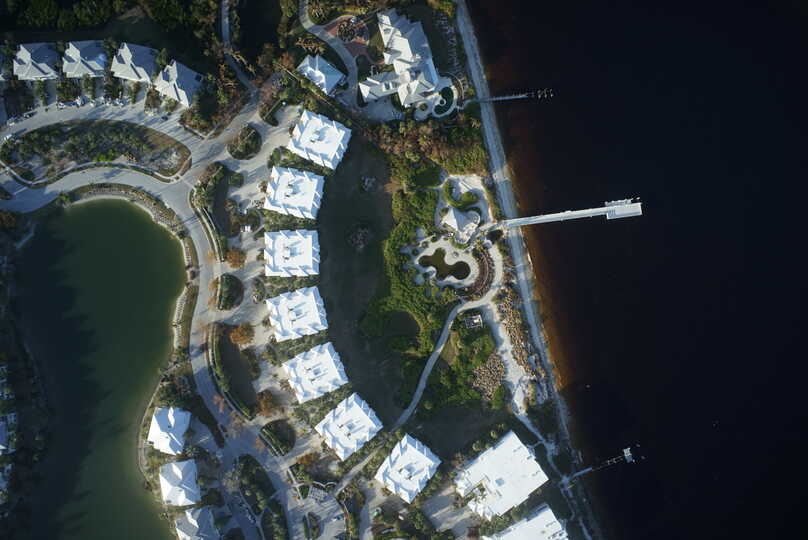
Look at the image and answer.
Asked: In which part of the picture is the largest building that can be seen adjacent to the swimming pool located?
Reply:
top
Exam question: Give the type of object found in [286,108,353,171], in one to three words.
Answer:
building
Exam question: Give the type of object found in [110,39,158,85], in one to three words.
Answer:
house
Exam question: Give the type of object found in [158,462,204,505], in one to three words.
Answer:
house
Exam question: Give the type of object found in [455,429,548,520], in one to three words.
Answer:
building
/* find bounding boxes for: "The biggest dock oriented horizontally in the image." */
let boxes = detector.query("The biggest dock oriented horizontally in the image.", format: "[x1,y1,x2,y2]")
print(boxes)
[499,198,643,230]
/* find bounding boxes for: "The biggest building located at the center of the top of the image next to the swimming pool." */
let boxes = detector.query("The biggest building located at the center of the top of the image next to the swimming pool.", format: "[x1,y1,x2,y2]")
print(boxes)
[356,9,447,110]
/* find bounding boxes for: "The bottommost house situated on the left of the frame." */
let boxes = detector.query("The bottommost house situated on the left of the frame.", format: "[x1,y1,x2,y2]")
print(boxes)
[174,504,221,540]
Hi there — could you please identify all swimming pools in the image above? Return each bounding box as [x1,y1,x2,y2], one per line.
[435,87,454,114]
